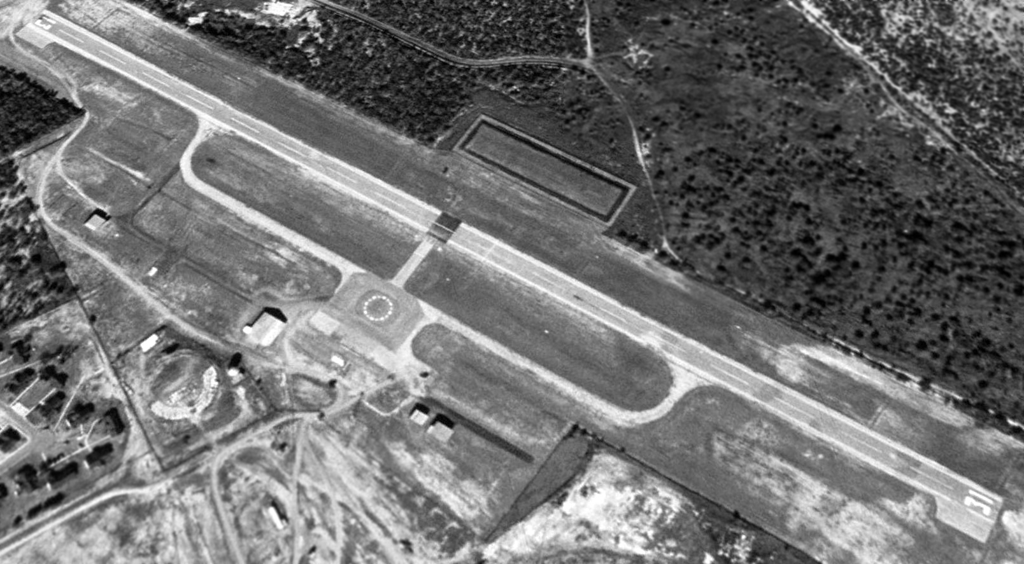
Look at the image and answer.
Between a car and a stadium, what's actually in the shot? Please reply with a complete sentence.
This aerial view contains a stadium.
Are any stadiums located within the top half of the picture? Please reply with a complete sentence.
No, within the top half of the picture there is no stadium.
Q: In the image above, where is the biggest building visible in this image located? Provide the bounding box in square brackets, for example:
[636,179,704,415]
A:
[248,312,286,349]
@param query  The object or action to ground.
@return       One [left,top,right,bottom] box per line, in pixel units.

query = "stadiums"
[152,357,218,421]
